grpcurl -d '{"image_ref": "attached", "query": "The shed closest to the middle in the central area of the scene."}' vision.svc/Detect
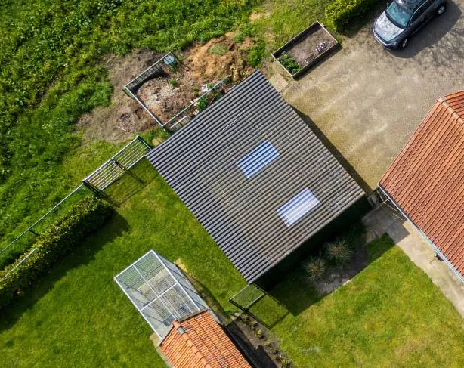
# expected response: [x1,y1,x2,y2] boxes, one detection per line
[146,66,368,288]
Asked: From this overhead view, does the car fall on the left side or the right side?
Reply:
right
